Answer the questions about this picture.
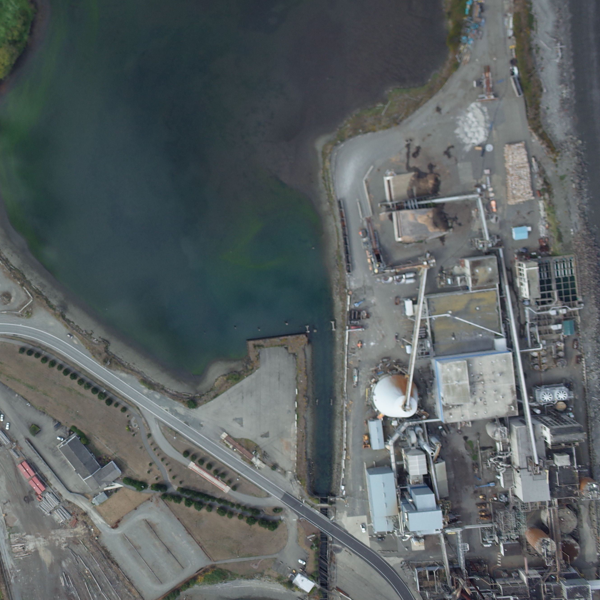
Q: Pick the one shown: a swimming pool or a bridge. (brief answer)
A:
bridge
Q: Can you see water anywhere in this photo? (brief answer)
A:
Yes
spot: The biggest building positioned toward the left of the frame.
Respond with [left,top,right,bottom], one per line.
[56,432,120,487]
